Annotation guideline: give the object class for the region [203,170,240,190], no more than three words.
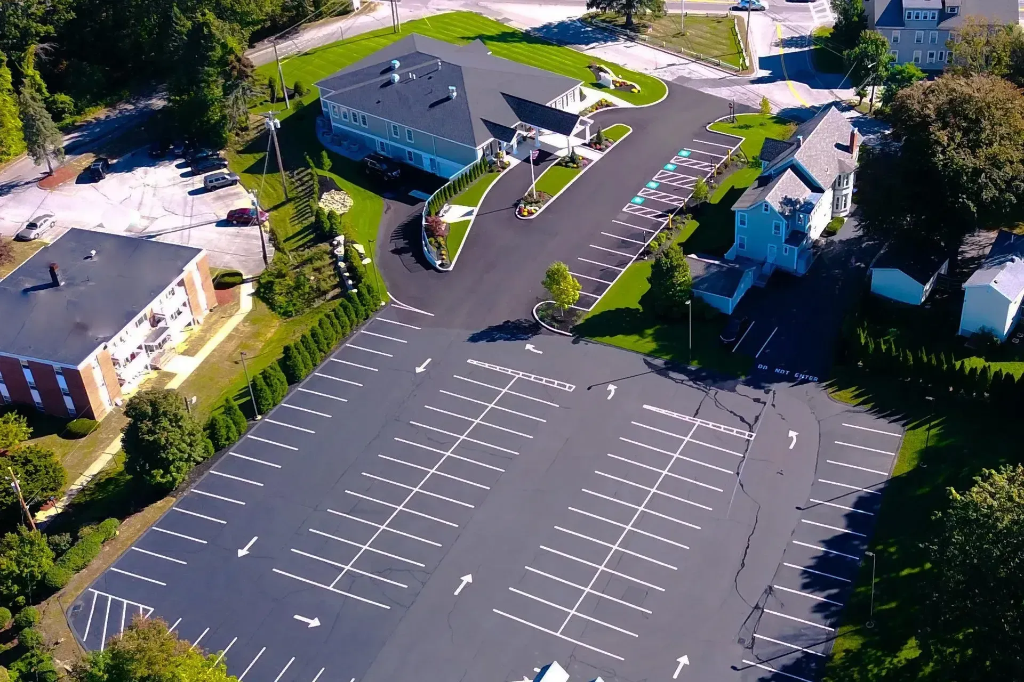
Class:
car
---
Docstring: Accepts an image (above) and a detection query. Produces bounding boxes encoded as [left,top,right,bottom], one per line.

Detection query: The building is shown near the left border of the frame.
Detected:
[0,228,217,421]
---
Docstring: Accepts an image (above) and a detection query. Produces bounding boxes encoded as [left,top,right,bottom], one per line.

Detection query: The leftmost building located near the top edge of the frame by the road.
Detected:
[314,32,592,177]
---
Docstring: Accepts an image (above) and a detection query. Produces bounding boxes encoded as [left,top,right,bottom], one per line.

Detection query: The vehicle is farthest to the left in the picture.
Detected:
[17,213,54,236]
